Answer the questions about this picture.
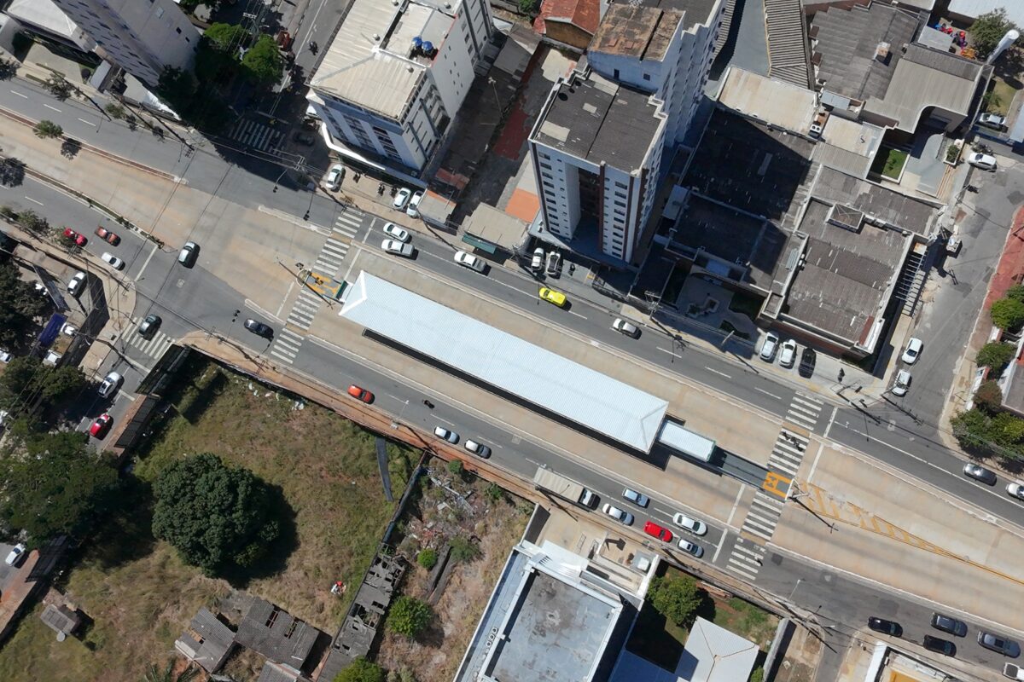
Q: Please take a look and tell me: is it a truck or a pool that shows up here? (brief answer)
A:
truck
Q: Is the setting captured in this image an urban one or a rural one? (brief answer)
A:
urban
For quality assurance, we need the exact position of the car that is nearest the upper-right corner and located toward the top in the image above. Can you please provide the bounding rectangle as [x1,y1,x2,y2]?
[975,111,1009,131]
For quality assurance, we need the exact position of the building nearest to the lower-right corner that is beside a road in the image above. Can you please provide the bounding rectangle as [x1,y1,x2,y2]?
[852,636,967,682]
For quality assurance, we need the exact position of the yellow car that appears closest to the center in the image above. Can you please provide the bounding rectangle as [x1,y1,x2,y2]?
[539,288,567,308]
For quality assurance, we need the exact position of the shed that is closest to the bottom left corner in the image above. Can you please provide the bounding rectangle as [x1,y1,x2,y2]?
[40,605,88,634]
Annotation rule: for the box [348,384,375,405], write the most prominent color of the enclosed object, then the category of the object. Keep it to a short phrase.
red car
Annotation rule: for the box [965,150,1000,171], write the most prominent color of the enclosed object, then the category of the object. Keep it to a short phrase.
white car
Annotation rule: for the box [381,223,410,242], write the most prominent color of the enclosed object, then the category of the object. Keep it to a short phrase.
white car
